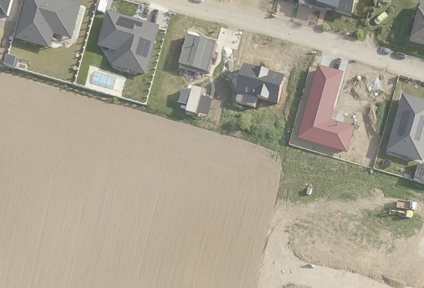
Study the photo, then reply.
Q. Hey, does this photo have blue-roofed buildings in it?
No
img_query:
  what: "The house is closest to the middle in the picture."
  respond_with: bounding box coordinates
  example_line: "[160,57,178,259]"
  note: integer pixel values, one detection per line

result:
[177,85,212,115]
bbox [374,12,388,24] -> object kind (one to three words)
vehicle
